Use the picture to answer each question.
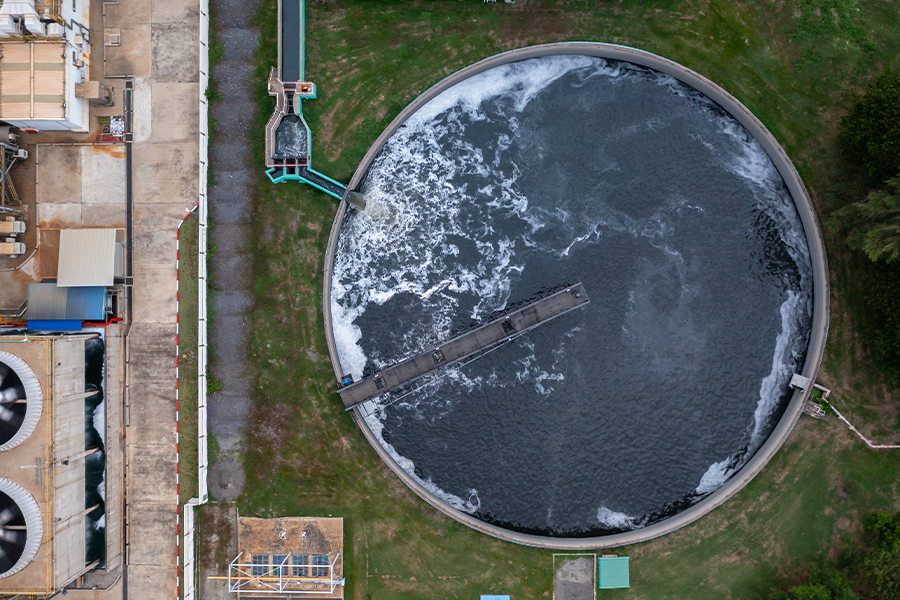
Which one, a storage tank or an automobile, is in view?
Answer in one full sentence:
The one in the frame is a storage tank.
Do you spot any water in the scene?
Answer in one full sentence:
Yes, some water is visible.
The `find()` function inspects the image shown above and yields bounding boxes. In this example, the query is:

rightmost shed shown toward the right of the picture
[599,553,630,589]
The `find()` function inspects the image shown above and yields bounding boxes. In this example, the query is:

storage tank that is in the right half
[322,40,831,551]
